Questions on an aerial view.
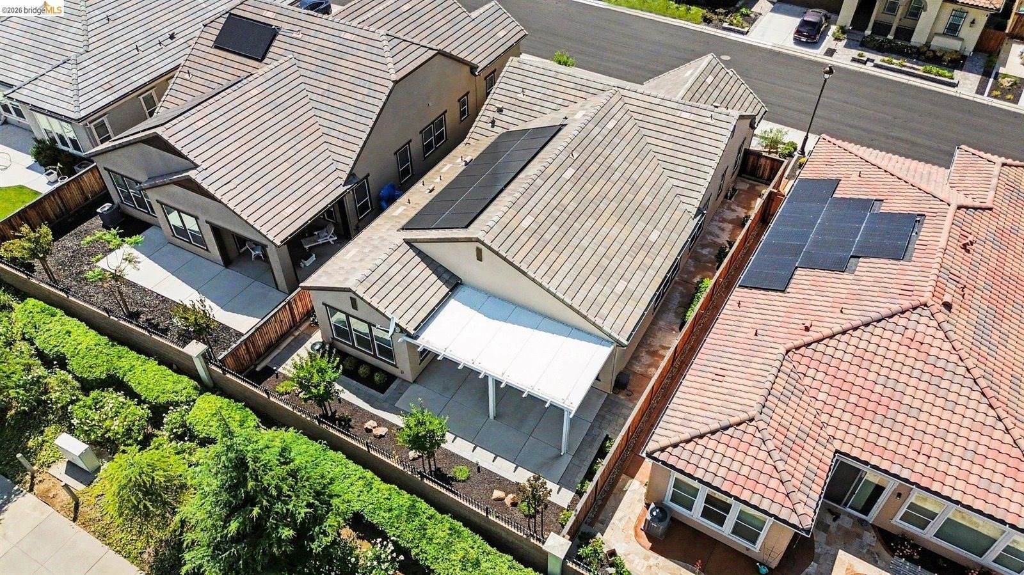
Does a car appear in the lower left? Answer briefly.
No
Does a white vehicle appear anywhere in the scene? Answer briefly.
No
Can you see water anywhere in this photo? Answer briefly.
No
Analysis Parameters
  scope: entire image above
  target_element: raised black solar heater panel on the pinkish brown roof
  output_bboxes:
[209,14,287,64]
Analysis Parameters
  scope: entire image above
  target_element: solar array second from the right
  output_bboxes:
[402,123,566,229]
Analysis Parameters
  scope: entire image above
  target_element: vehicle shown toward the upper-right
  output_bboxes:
[793,6,837,39]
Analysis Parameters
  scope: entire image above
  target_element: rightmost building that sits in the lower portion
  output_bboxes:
[642,133,1024,575]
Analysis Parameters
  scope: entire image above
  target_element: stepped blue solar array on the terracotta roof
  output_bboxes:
[741,176,924,288]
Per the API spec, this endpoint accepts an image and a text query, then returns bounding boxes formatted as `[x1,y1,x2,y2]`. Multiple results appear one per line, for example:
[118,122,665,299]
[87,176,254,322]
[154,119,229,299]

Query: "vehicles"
[793,6,837,39]
[292,0,354,12]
